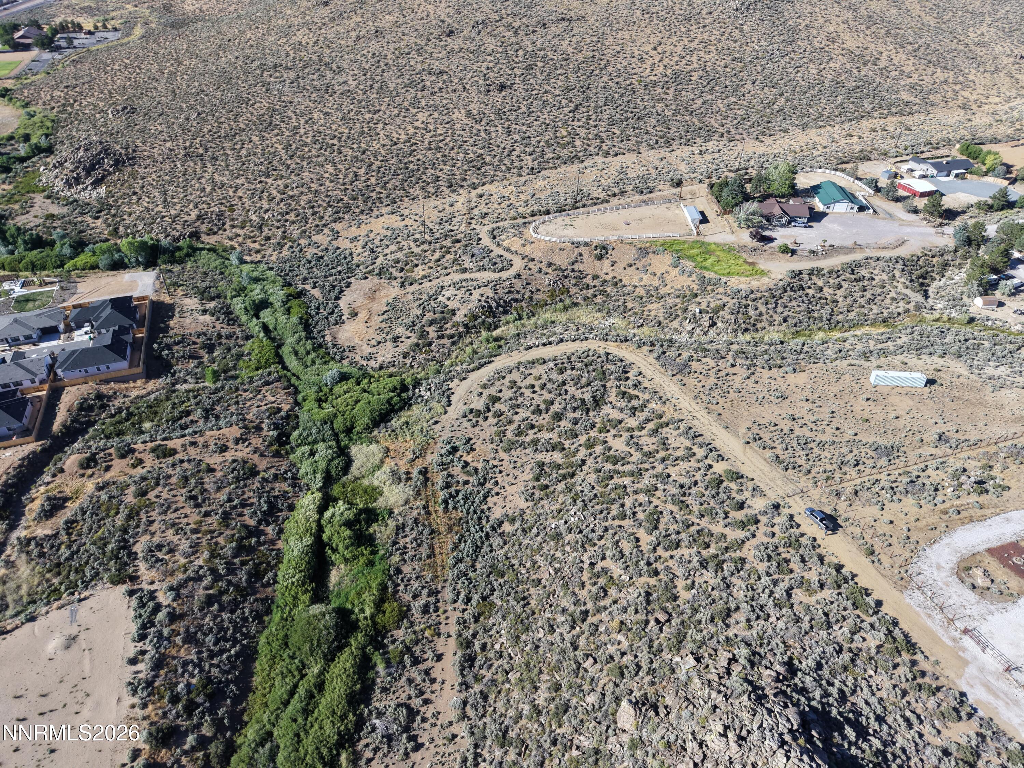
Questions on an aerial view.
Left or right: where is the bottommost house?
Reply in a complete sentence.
The bottommost house is on the left side of the image.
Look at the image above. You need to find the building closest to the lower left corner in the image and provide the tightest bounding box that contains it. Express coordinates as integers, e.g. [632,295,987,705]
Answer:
[0,388,32,438]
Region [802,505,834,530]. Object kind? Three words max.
truck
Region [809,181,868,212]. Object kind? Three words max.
barn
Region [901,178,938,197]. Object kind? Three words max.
barn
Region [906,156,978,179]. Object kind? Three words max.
house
